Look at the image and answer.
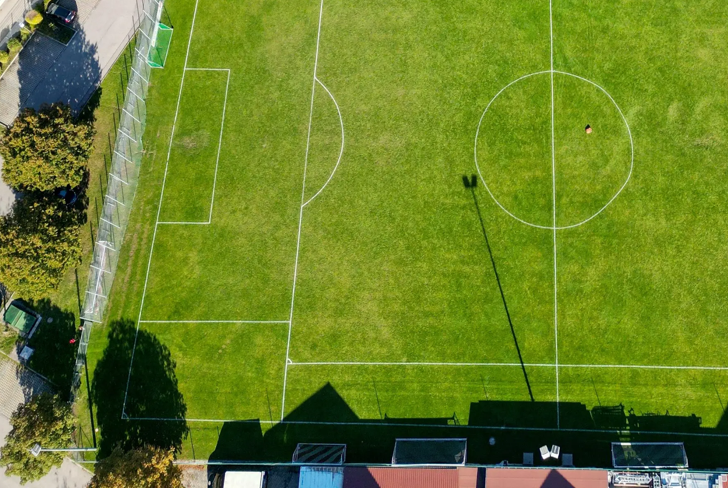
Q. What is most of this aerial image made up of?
grass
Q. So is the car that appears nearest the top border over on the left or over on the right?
left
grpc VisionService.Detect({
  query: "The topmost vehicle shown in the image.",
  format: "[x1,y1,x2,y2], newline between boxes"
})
[43,4,79,26]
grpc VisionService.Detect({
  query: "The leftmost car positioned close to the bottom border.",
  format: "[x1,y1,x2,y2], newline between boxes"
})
[203,467,225,488]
